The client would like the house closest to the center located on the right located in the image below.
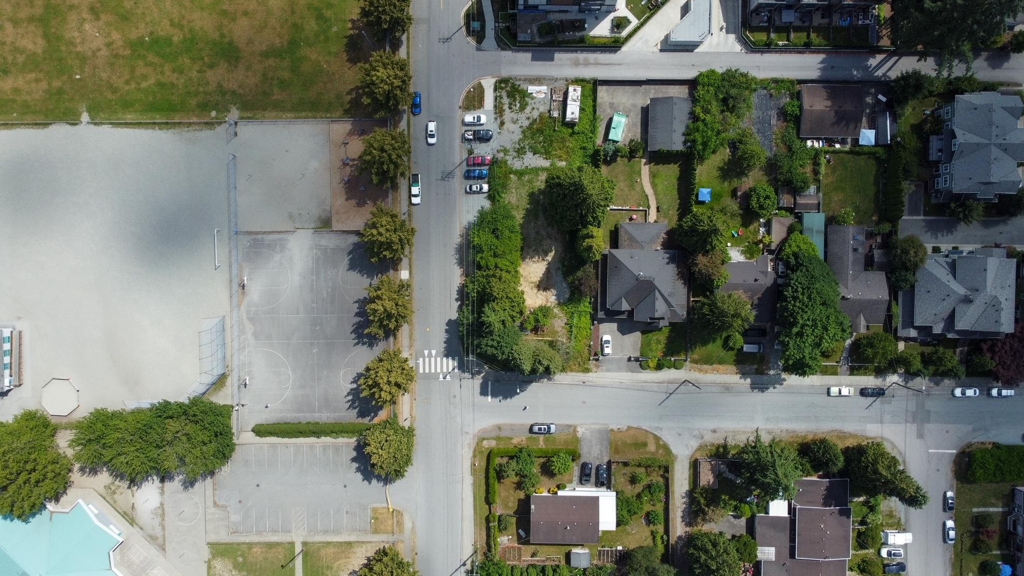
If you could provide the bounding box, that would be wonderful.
[598,223,687,326]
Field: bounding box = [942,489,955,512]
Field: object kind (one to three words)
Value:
vehicle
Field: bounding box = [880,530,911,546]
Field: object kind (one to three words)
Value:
vehicle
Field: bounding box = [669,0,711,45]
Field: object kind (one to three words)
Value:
building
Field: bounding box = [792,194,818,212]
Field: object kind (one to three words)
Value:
shed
